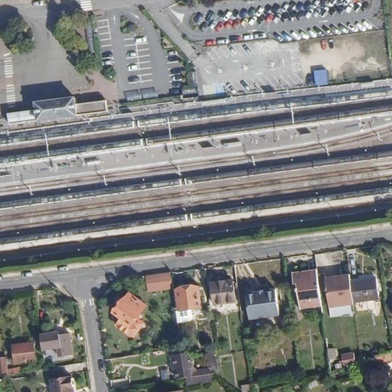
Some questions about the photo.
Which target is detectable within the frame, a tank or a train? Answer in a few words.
train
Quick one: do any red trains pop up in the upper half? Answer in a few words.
No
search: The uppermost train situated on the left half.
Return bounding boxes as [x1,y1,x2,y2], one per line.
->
[0,121,136,146]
